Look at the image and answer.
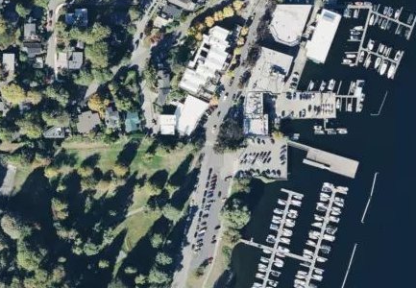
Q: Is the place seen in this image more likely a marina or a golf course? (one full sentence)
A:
It's a marina.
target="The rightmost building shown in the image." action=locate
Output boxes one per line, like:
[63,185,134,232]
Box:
[306,9,341,66]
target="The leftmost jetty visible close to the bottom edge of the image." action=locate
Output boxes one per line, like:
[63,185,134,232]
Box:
[239,188,304,288]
